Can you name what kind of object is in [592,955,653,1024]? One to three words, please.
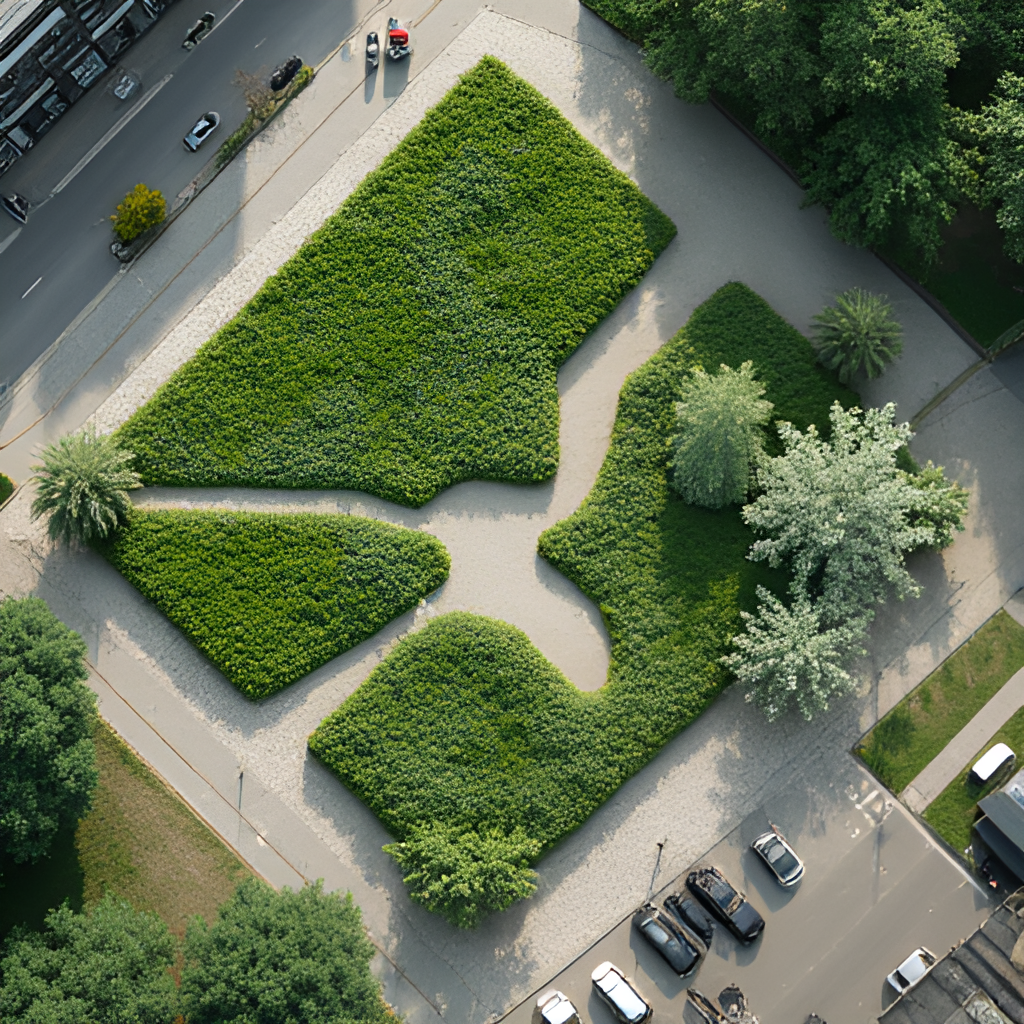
car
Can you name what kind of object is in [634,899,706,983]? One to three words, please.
car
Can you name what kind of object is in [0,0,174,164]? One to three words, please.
building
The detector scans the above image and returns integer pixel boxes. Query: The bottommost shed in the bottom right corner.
[864,883,1024,1024]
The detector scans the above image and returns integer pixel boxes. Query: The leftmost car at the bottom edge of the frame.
[543,986,593,1024]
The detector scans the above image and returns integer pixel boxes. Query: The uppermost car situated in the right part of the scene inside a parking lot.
[750,826,806,891]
